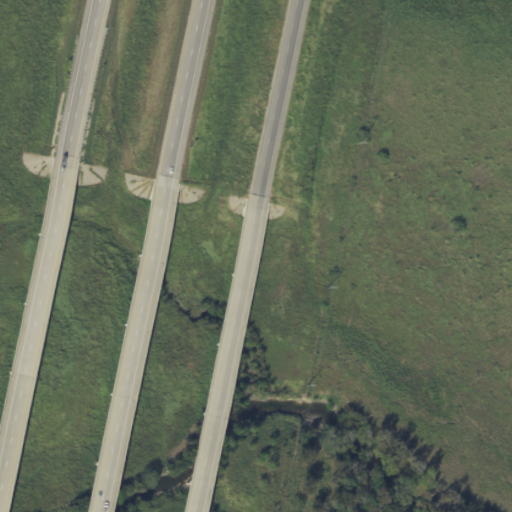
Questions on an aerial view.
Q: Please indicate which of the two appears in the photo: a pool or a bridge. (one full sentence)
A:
Looking from above, you can make out a bridge.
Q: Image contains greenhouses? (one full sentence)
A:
No, no greenhouse is visible in the view.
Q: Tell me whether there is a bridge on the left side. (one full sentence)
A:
Yes, looking on the left side, one can make out a bridge.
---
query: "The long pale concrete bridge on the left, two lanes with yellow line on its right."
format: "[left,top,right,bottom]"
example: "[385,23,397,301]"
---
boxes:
[0,154,80,512]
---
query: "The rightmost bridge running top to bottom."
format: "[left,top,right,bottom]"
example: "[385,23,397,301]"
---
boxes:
[185,193,273,512]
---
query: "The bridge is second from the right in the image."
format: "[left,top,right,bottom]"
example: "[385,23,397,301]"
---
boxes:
[90,174,181,512]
